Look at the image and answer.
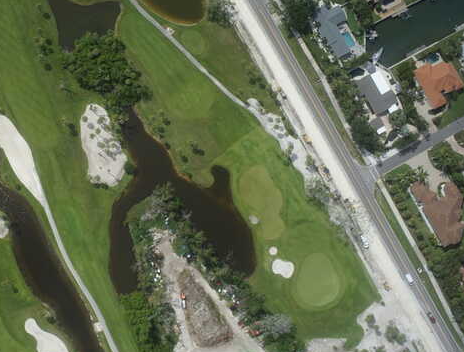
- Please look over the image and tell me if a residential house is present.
Yes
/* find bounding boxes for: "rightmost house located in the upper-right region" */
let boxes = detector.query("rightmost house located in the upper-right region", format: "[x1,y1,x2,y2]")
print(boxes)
[415,55,464,110]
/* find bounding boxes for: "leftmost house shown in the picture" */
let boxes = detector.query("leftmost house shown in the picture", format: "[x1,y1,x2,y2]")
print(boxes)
[314,2,355,61]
